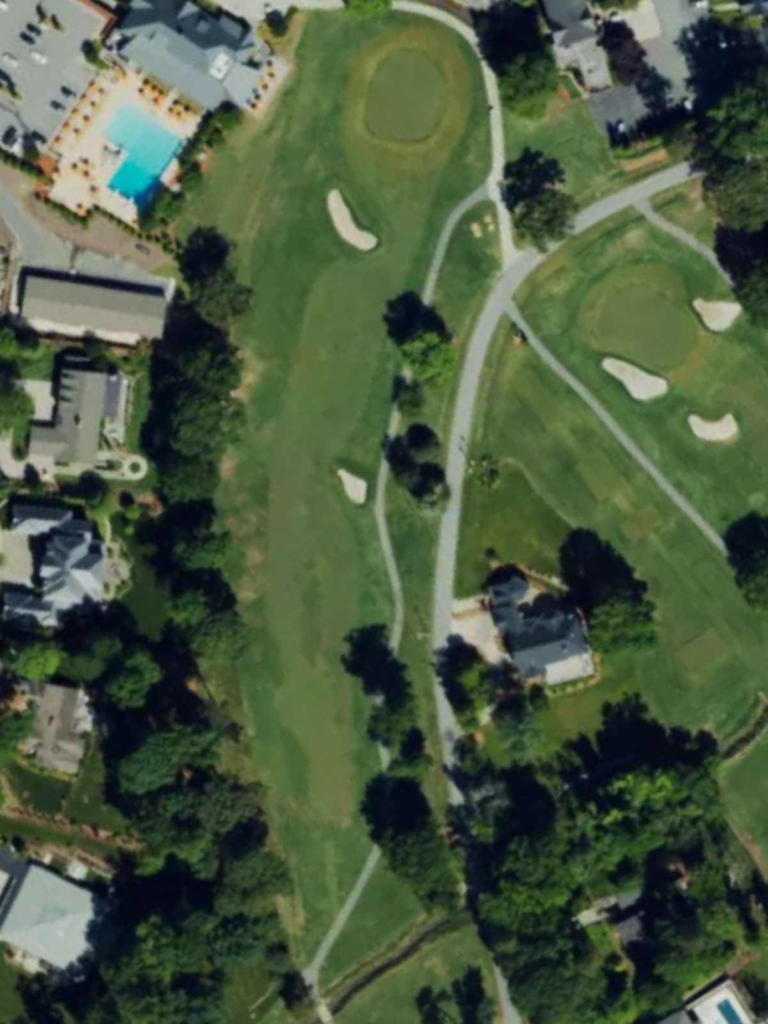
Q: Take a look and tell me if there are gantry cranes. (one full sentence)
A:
No, I can see no gantry crane in this picture.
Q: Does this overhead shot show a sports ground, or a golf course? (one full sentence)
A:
What you see here is a golf course.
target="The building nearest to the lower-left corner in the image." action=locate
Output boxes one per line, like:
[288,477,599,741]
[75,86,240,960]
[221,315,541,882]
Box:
[0,848,97,969]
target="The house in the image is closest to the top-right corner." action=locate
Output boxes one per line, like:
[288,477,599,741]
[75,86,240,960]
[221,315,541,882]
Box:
[545,0,614,90]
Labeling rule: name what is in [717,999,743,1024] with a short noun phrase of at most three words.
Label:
swimming pool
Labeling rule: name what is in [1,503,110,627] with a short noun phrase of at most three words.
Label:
house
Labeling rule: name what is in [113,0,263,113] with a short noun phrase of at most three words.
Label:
building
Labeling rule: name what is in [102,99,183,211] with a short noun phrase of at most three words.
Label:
swimming pool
